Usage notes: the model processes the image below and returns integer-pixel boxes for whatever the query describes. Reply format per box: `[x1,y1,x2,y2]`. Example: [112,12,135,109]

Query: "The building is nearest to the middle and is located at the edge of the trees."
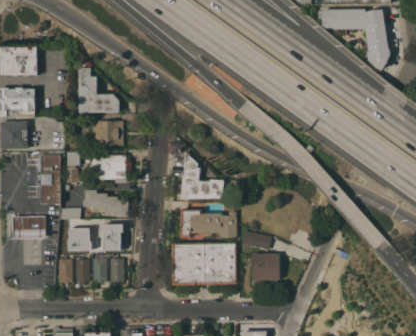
[182,152,224,200]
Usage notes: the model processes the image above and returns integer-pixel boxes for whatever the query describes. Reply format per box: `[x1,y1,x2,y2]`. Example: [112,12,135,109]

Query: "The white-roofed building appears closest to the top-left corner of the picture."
[0,47,38,76]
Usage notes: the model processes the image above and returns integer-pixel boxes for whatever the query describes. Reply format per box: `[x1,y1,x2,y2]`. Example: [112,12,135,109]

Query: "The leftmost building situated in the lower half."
[13,215,47,240]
